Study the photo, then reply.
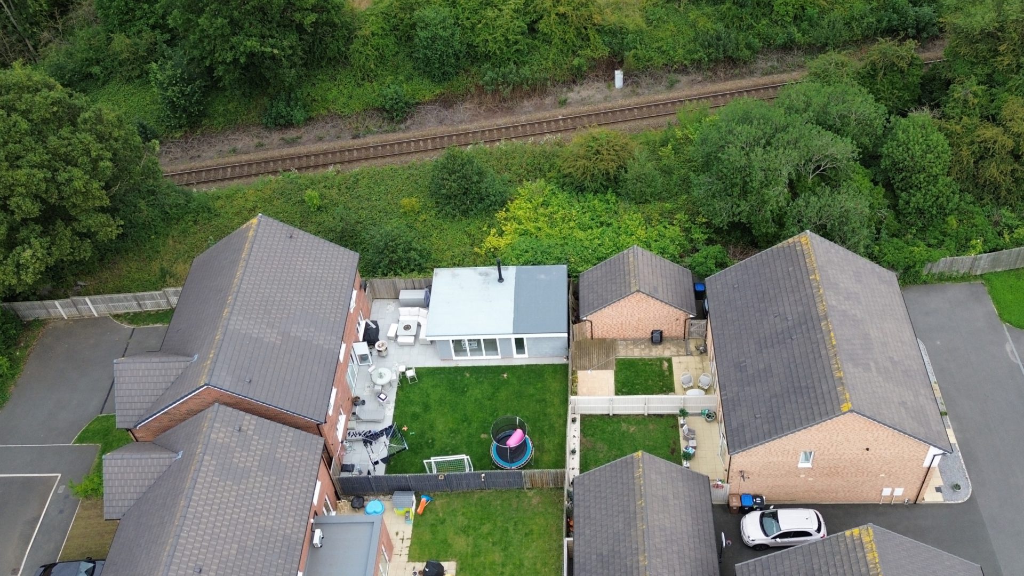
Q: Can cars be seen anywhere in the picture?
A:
Yes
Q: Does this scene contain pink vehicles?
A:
No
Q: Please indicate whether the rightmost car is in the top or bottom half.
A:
bottom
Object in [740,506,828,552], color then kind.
white car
